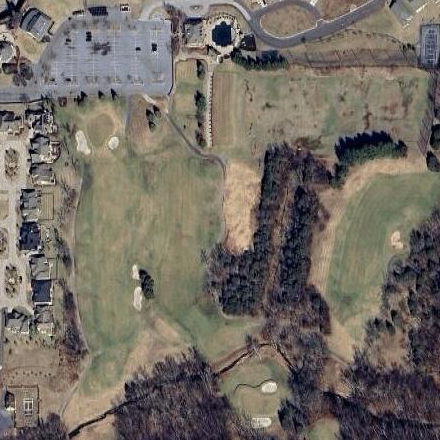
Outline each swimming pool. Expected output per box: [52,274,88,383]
[204,12,243,57]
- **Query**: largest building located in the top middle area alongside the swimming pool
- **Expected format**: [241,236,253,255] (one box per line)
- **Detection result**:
[184,22,204,48]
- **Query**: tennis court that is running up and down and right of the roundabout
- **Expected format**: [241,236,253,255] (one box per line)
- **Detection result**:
[420,24,440,66]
